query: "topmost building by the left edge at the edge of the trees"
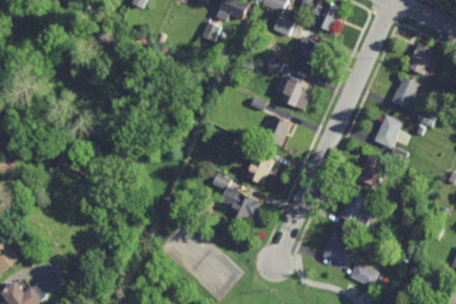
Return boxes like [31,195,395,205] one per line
[0,240,18,277]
